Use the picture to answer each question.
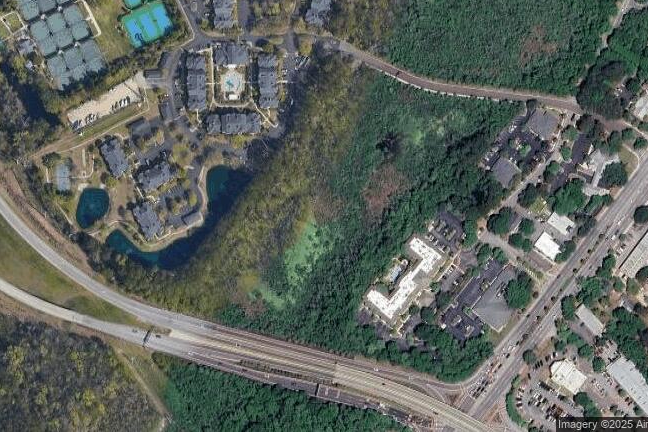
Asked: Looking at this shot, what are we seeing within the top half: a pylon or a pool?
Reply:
pool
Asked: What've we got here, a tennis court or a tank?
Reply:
tennis court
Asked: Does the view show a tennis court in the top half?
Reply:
Yes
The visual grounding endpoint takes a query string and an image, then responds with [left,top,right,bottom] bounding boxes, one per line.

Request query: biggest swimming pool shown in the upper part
[222,70,245,93]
